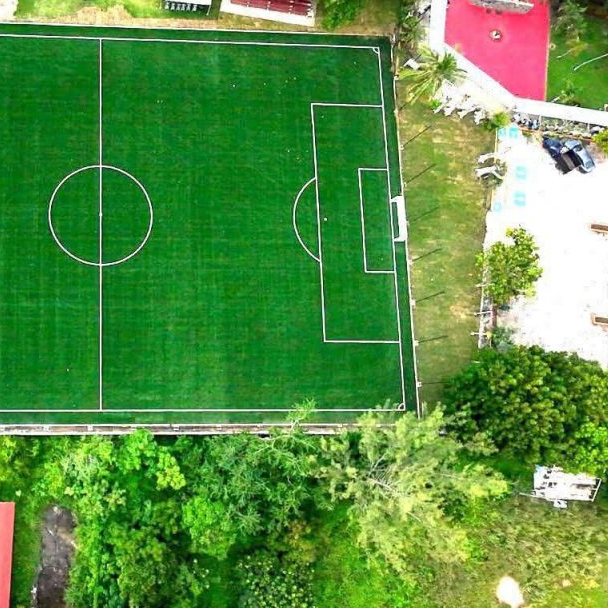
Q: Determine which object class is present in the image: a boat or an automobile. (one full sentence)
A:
Visible in the photo is an automobile.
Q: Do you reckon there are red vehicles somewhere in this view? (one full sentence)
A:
No, I can't see a single red vehicle in this photo.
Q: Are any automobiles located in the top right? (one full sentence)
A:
Yes, an automobile appears in the top right.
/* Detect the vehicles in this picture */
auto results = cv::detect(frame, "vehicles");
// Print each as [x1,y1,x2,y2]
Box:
[570,138,602,176]
[545,133,583,178]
